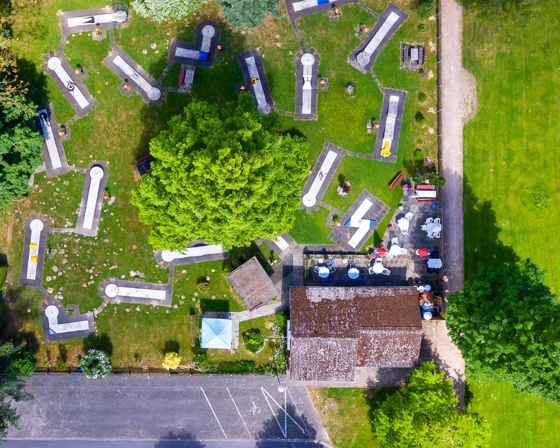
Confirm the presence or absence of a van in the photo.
No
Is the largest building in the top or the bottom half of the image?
bottom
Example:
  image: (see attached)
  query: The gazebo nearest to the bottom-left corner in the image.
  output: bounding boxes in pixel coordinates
[201,313,232,349]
